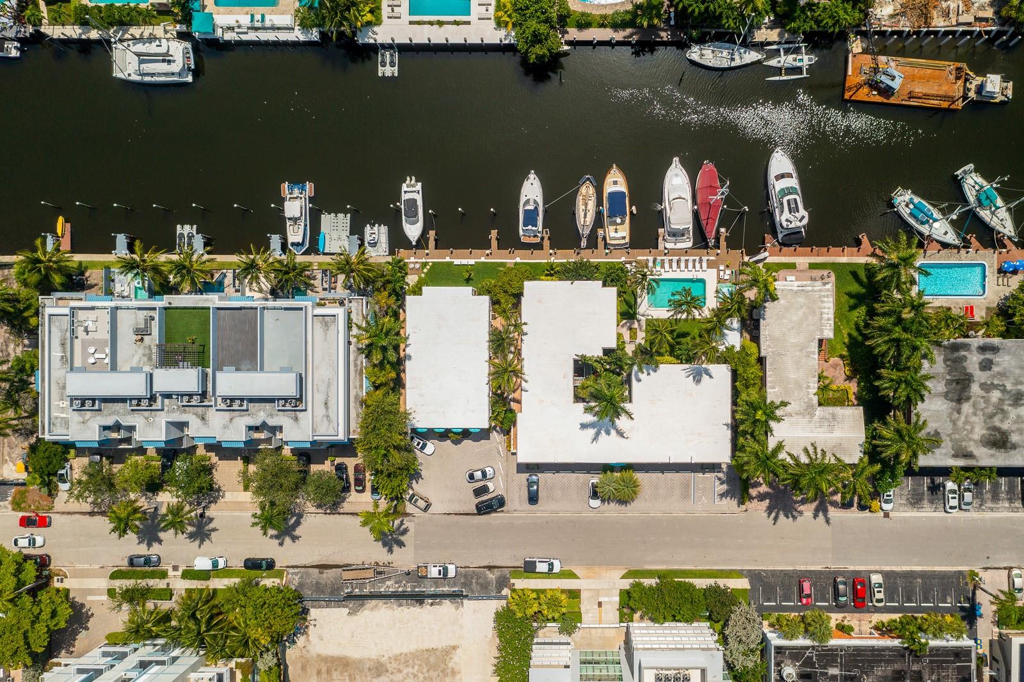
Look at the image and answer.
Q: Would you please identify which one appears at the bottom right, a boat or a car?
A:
car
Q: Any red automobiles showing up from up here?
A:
Yes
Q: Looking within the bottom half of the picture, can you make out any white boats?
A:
No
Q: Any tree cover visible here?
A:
Yes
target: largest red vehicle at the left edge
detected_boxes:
[18,510,53,528]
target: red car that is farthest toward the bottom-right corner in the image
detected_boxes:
[851,577,867,608]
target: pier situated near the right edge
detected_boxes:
[764,233,1024,274]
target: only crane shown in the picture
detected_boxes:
[846,5,903,100]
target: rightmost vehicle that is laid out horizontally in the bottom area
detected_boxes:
[523,556,561,574]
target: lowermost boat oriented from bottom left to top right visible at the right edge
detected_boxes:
[949,162,974,180]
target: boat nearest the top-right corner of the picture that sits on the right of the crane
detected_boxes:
[961,63,1012,108]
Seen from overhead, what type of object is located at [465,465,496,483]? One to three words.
car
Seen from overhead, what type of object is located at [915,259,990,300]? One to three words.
swimming pool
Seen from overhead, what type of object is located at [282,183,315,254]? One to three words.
boat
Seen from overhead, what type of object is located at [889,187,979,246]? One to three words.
boat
